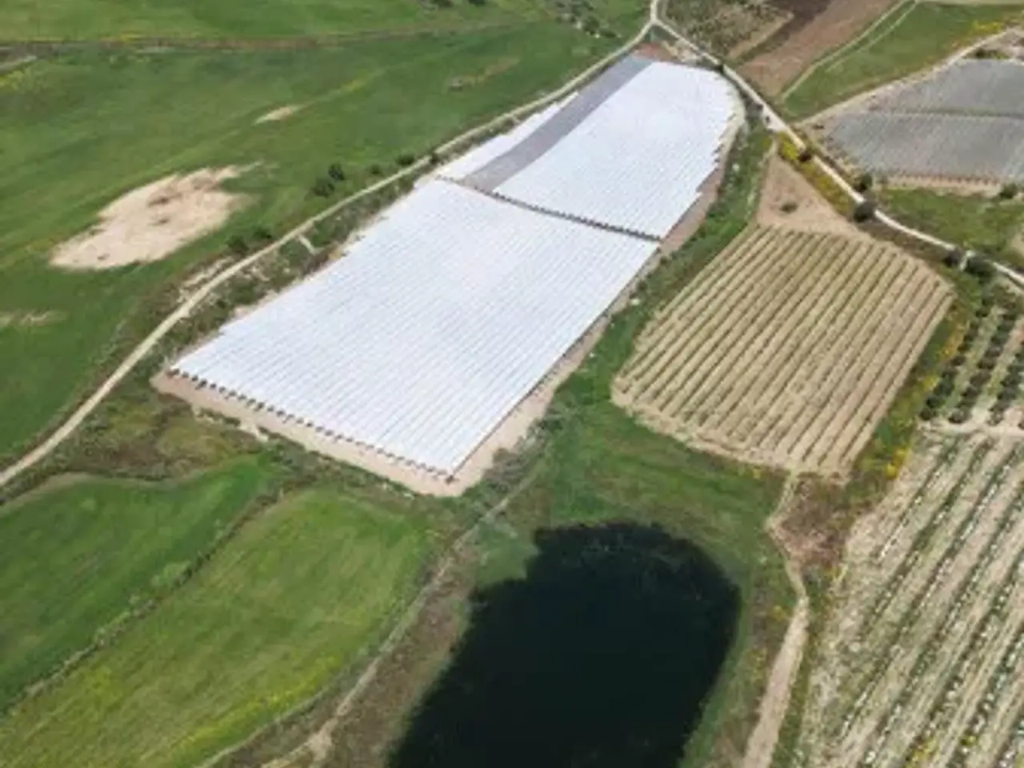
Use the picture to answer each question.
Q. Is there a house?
No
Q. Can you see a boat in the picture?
No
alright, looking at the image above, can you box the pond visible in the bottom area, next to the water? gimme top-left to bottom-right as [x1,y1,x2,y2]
[380,518,745,768]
